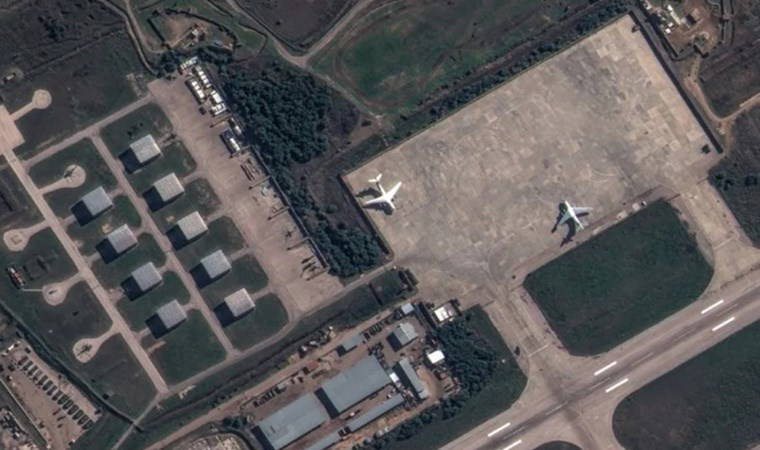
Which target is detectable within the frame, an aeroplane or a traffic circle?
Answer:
aeroplane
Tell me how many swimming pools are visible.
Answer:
0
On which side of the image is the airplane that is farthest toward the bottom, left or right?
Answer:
right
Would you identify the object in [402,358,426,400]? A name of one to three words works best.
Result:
shed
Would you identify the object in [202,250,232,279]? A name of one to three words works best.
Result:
hangar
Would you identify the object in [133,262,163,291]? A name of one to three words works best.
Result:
hangar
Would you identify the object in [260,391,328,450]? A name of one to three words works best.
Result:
building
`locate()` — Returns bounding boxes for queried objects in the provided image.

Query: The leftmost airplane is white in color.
[367,175,402,210]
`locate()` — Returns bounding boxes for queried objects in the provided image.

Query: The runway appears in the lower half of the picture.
[438,264,760,450]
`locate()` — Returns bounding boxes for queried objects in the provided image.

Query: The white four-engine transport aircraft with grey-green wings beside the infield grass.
[560,203,592,235]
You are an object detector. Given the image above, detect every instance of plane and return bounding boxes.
[367,175,402,210]
[560,203,592,235]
